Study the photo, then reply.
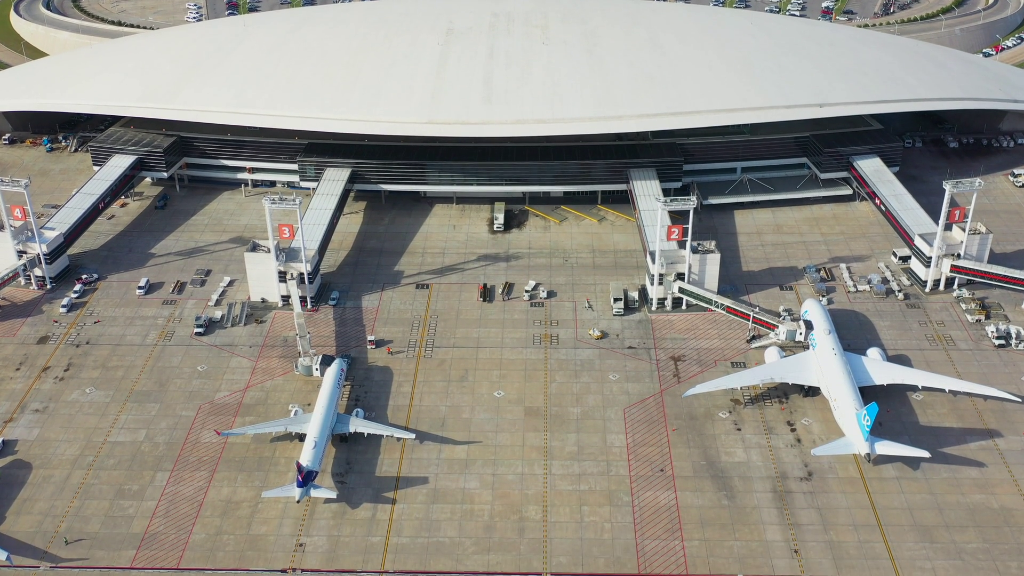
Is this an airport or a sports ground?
airport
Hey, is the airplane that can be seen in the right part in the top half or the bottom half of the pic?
bottom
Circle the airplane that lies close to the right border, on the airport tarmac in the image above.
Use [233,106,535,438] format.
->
[682,298,1023,465]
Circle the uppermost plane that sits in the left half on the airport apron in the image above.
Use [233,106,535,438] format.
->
[213,359,418,505]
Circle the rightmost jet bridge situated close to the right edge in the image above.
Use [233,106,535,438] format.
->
[939,254,1024,317]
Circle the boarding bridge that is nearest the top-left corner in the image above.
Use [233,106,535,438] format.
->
[0,251,39,288]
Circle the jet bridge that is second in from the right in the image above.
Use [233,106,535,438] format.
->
[663,274,820,355]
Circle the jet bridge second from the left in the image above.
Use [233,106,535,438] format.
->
[278,273,336,380]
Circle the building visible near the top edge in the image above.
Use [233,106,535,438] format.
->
[0,0,1024,207]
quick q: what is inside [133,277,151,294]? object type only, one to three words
vehicle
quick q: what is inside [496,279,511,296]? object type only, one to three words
work vehicle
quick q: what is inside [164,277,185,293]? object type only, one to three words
work vehicle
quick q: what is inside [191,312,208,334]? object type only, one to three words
vehicle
